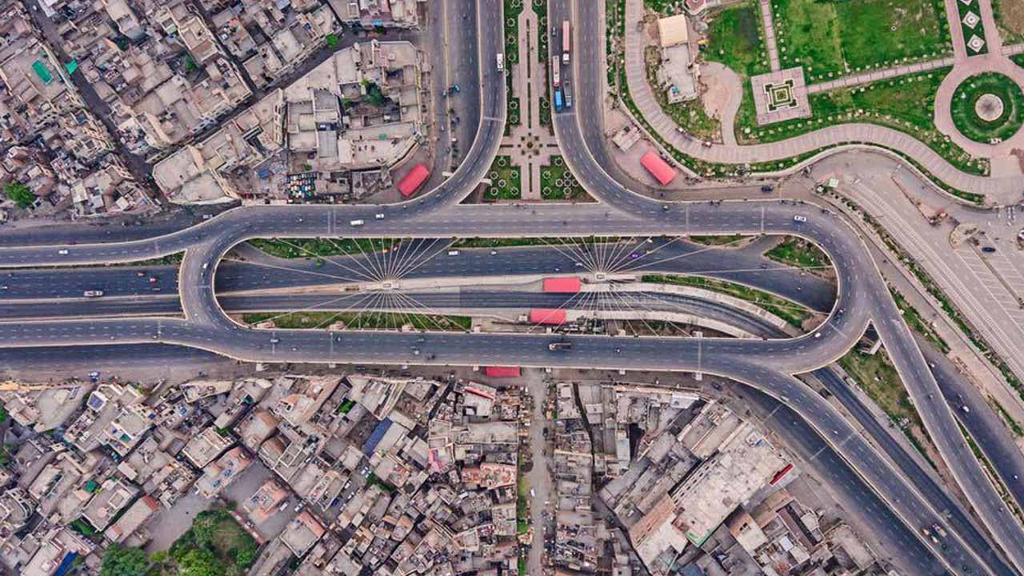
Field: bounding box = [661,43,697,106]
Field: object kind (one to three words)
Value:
house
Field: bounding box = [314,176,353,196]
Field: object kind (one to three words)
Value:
house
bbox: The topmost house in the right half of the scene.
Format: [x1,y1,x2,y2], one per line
[655,14,689,52]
